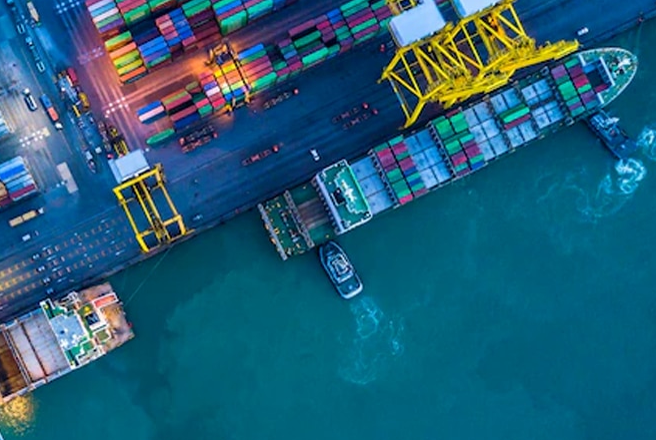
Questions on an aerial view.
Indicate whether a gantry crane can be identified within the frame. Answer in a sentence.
Yes, there is a gantry crane in the image.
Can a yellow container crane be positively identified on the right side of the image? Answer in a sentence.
Yes, you'll find a yellow container crane on the right side of the image.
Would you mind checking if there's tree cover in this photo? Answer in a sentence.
No, no tree cover is visible.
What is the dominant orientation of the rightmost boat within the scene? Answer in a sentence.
The rightmost boat has been laid out on a diagonal relative to the frame.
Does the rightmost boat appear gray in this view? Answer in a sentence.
No, the color of the rightmost boat is blue.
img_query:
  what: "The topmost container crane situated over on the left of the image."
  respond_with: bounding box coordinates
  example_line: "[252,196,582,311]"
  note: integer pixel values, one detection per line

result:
[201,30,253,112]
